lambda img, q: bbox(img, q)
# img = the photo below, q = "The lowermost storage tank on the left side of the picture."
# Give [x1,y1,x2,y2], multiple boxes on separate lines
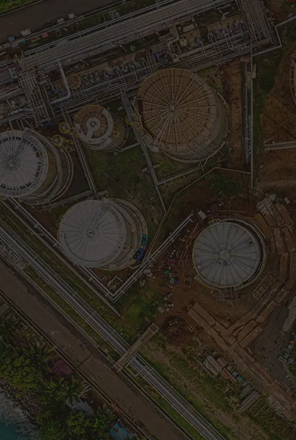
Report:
[58,198,148,271]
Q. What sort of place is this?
industrial area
